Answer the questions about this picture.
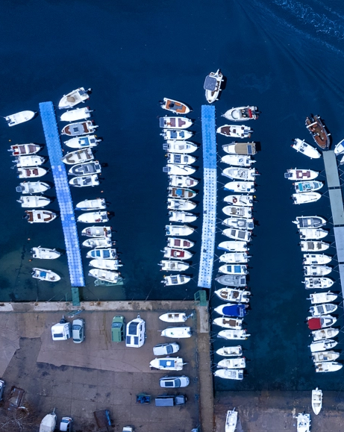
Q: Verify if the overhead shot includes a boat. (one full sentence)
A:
Yes, a boat can be made out from above.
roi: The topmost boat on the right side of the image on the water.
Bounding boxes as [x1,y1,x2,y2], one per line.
[202,65,225,105]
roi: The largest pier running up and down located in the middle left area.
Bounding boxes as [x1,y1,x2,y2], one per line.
[39,100,86,287]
